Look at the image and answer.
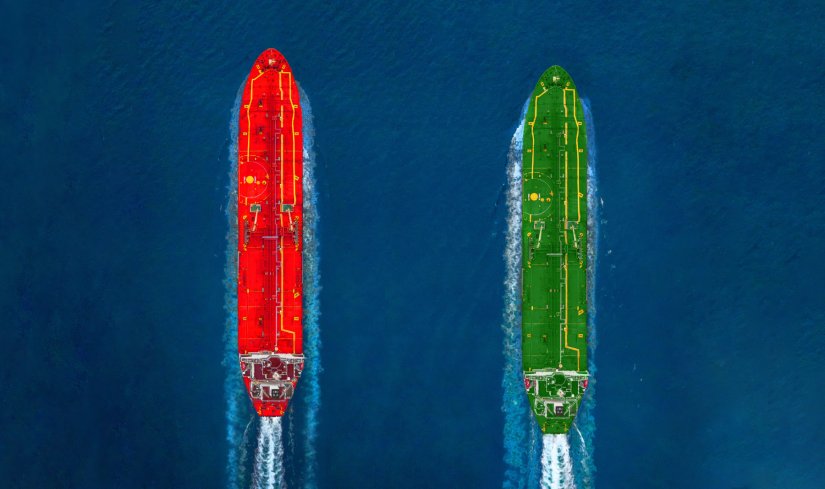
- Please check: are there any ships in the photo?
Yes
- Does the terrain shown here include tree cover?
No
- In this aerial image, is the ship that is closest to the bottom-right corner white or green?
green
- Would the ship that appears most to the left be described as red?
Yes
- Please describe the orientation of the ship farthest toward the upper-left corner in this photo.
from top to bottom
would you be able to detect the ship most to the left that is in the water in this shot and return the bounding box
[238,48,306,416]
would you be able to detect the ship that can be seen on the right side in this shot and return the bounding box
[522,64,592,433]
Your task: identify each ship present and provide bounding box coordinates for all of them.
[238,48,306,416]
[522,64,592,433]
